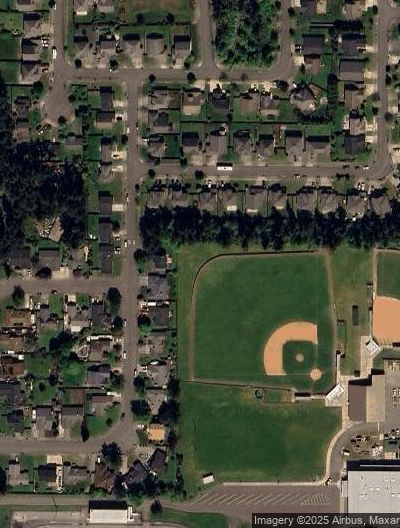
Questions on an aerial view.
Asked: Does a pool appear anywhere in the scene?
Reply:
No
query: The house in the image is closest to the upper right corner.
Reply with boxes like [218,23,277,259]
[343,1,369,20]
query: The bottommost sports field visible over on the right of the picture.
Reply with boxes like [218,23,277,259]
[176,384,342,500]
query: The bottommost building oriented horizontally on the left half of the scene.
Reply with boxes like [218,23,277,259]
[90,508,129,524]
